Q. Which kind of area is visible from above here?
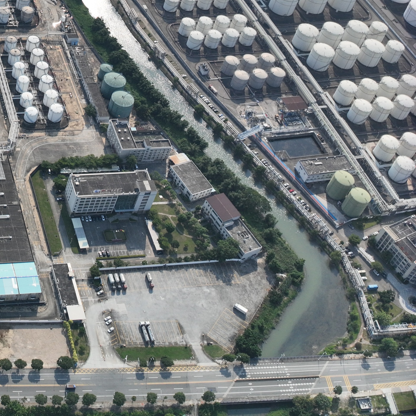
industrial area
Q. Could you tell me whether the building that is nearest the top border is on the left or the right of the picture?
left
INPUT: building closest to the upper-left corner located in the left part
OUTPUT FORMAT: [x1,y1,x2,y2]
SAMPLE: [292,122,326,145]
[59,20,79,46]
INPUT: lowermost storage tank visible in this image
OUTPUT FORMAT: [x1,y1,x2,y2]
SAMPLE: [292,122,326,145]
[342,189,371,218]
